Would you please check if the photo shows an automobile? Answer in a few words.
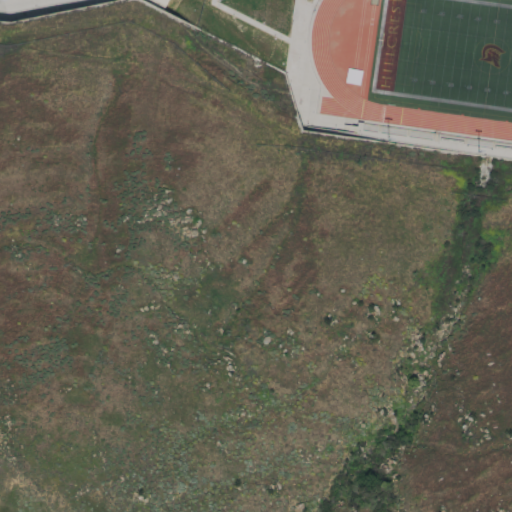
No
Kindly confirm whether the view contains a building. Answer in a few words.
No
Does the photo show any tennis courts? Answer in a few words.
No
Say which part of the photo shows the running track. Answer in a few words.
top right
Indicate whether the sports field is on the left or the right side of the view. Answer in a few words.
right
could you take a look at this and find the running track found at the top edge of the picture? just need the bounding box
[312,0,512,142]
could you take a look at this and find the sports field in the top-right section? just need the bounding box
[368,0,512,122]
